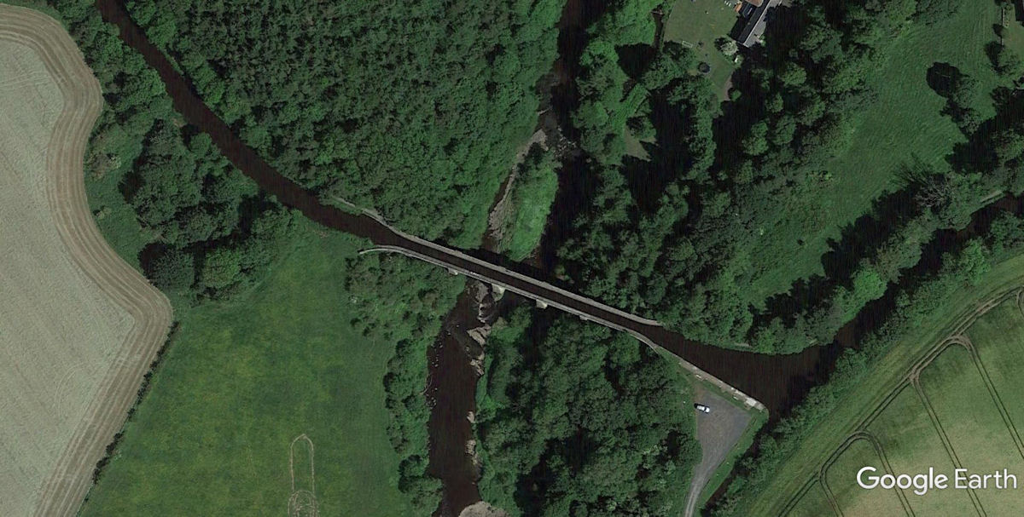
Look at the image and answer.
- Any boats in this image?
No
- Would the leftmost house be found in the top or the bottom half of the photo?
top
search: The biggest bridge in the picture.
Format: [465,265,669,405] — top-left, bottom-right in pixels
[360,210,663,356]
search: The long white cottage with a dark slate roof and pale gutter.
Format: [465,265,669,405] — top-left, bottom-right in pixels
[738,0,779,48]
